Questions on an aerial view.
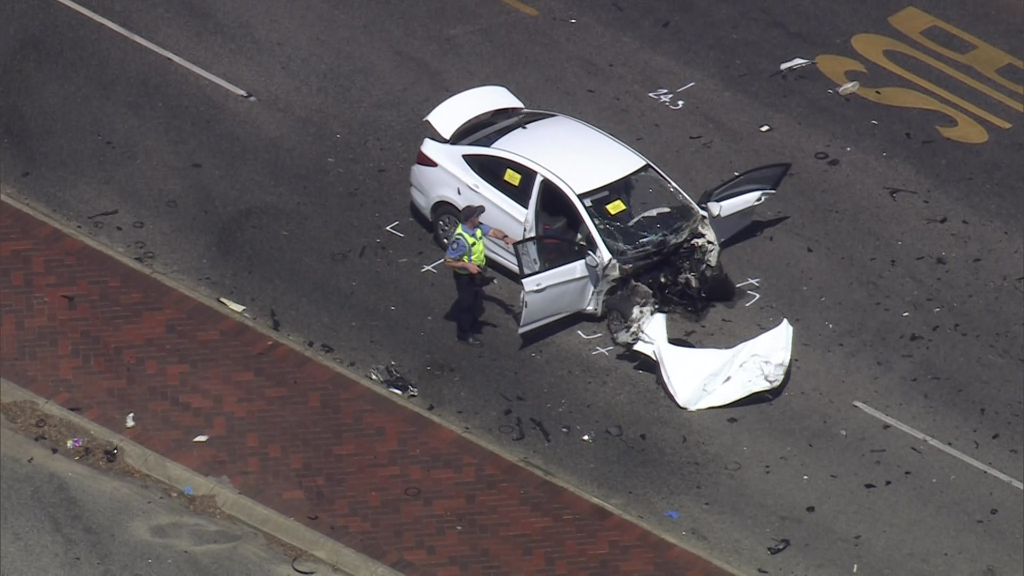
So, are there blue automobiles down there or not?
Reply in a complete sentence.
No, the scene contains no blue automobile.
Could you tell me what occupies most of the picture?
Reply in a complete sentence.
Most of the picture is covered by paved ground.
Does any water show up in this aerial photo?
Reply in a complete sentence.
No, the picture contains no water.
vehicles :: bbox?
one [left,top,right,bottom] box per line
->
[410,84,789,351]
